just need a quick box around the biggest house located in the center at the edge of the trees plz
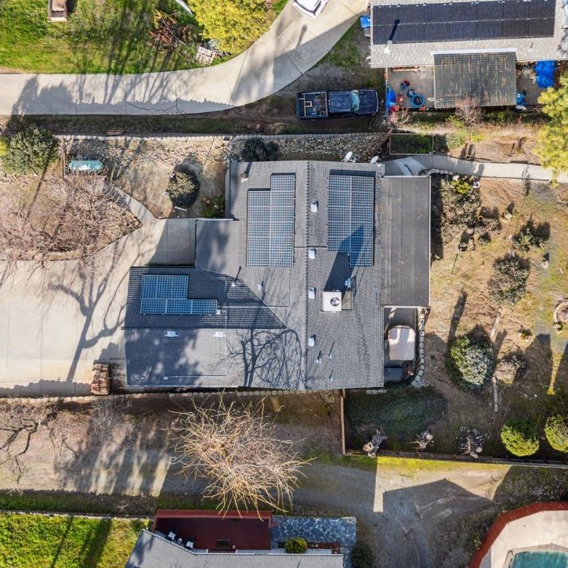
[119,148,430,394]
